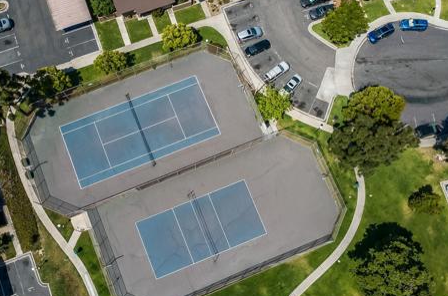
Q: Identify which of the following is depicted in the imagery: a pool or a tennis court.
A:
tennis court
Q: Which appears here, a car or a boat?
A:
car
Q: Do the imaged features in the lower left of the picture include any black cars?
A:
No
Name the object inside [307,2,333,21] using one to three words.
car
